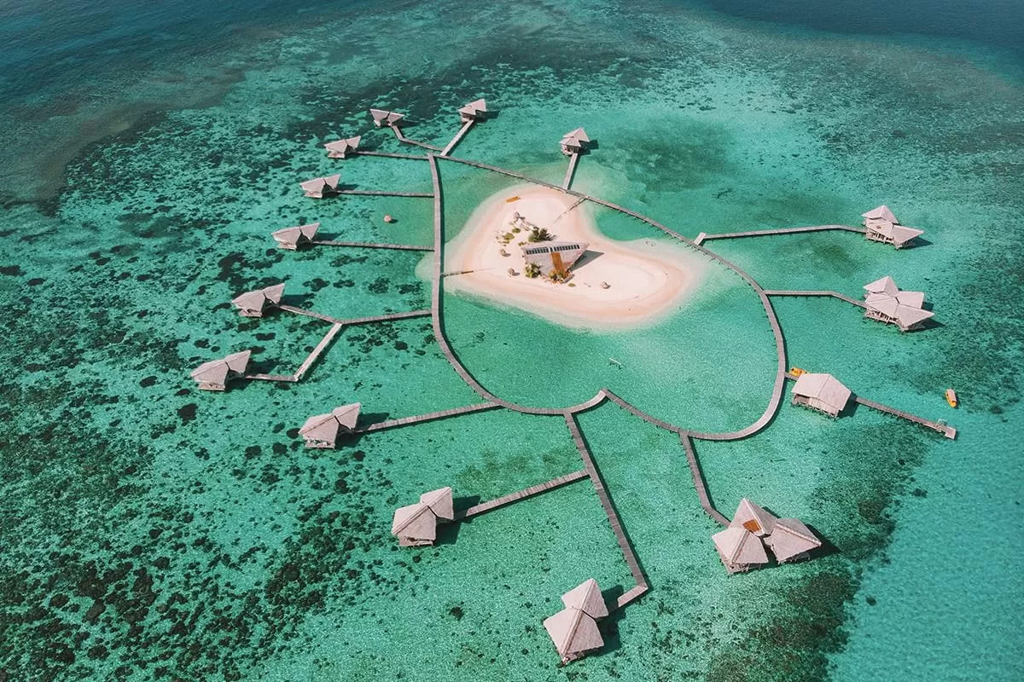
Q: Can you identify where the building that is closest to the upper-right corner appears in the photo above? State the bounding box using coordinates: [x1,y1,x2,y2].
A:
[860,204,926,255]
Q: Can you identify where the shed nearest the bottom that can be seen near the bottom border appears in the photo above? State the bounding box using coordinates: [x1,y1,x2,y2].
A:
[545,578,608,671]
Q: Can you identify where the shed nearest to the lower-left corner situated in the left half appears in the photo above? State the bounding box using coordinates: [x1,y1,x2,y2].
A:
[189,348,253,400]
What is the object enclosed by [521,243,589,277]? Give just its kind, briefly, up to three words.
house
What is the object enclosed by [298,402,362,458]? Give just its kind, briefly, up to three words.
shed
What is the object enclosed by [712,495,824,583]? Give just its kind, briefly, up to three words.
building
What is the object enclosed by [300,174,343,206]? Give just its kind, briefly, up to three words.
shed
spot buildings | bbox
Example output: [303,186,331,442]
[860,204,926,255]
[561,128,589,160]
[189,348,253,400]
[298,402,362,458]
[521,243,589,277]
[861,274,936,338]
[393,486,453,557]
[272,222,321,257]
[712,495,824,583]
[545,578,608,671]
[460,100,486,128]
[370,109,403,134]
[231,282,288,326]
[790,374,851,424]
[300,174,343,206]
[324,136,362,165]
